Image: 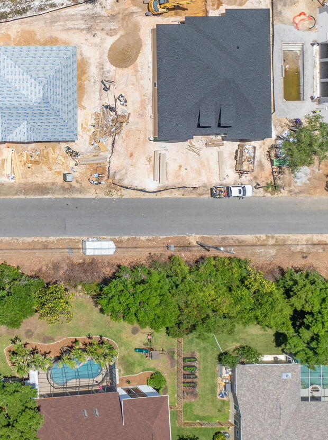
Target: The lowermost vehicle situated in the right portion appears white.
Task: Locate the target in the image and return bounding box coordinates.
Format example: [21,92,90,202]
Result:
[212,185,255,202]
